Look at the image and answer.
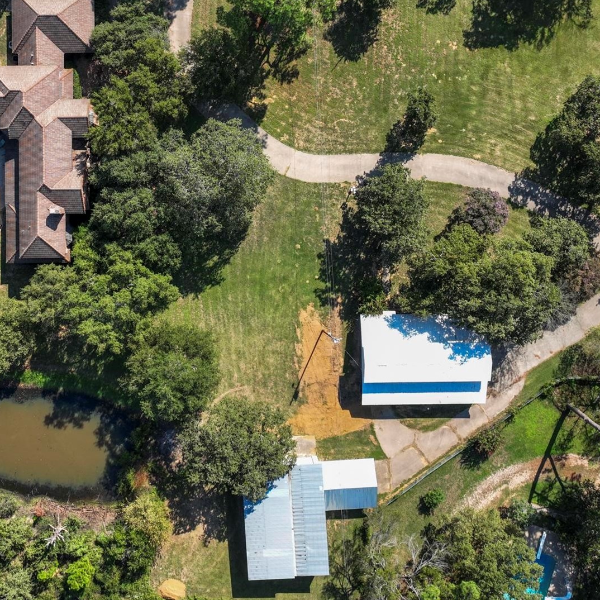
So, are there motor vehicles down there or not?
No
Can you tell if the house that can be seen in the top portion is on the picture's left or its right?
left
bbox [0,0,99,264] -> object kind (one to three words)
house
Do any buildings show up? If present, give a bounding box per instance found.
[360,309,493,406]
[0,0,99,264]
[244,450,330,581]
